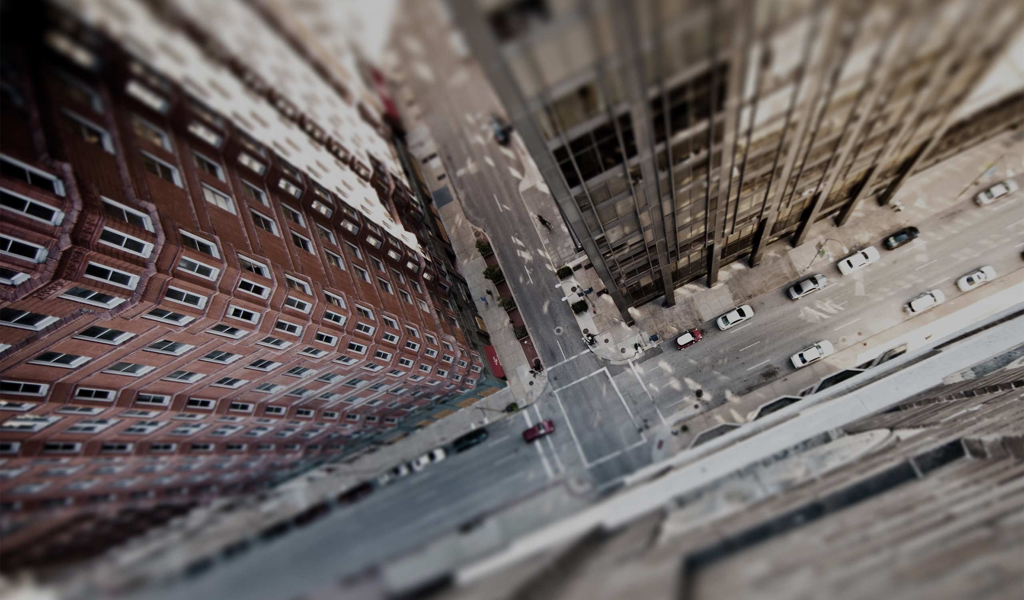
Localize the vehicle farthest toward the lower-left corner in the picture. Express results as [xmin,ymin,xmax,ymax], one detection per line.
[181,556,213,580]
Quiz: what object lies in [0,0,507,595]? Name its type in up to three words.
building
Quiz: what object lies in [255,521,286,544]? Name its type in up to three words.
car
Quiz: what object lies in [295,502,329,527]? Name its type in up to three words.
car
